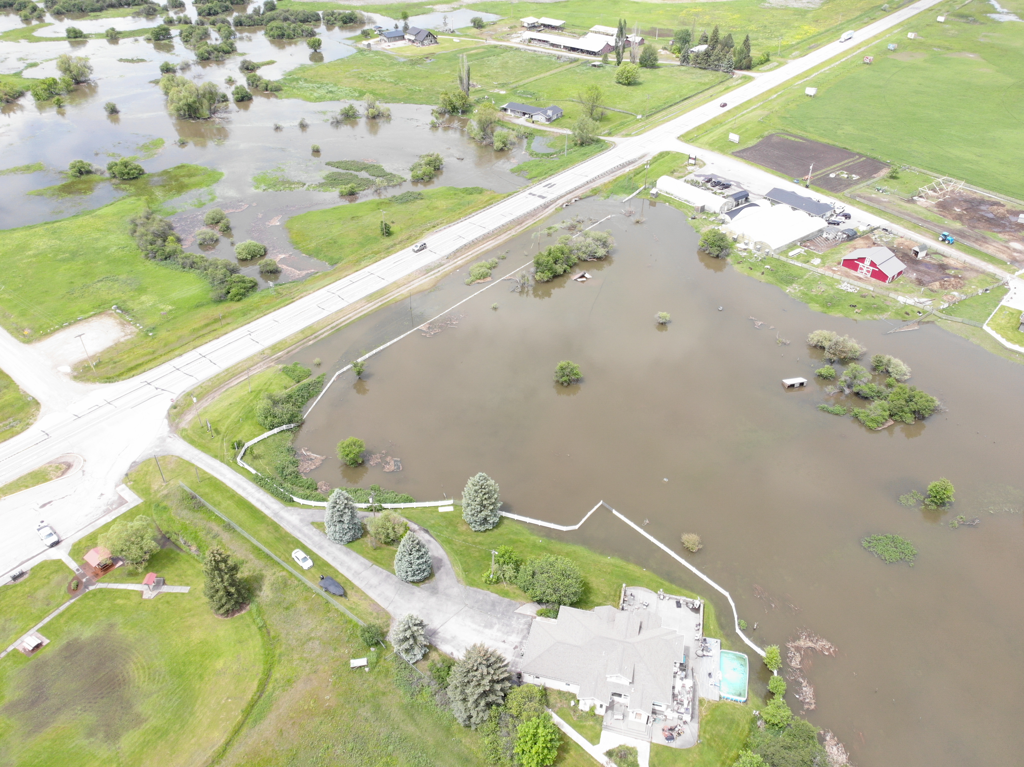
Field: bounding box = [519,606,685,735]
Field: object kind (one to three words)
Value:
house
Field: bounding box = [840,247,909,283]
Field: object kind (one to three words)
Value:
barn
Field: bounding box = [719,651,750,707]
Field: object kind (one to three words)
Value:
swimming pool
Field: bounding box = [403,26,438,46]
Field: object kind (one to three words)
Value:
house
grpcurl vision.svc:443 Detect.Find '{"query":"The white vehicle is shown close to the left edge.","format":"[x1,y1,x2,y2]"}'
[30,519,57,545]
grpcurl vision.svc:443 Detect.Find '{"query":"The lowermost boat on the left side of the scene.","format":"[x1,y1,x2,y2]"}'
[317,569,348,596]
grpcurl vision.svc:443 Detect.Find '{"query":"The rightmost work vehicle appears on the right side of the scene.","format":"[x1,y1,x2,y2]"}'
[940,231,959,246]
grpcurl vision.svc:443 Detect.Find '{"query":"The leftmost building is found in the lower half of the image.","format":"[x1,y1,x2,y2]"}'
[69,532,115,571]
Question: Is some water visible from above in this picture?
Yes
